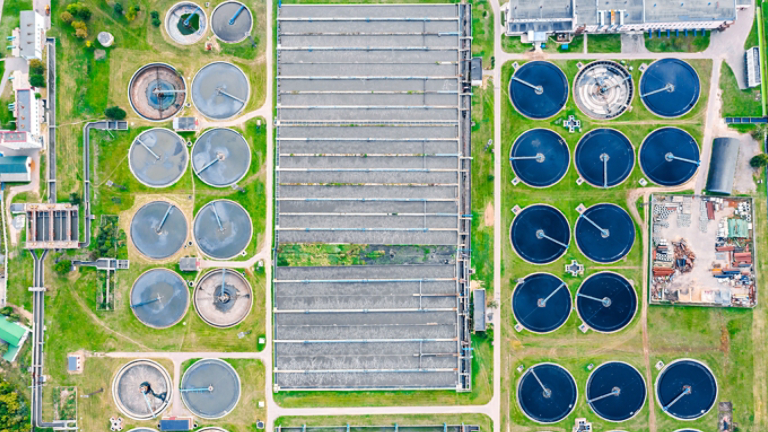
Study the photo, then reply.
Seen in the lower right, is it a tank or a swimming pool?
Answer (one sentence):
What appears in the lower right is a tank.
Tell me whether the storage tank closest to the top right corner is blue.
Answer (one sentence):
Yes, the storage tank closest to the top right corner appears blue.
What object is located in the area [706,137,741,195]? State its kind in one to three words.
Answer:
hangar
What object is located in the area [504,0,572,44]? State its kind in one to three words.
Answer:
building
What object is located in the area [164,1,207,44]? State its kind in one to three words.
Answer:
storage tank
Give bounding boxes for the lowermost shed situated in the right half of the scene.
[472,288,485,331]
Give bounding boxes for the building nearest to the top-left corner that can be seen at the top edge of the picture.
[4,10,46,61]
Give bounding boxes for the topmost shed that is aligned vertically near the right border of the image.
[746,46,761,88]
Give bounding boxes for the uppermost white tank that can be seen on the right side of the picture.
[573,59,634,121]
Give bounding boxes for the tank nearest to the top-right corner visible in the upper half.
[639,57,700,118]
